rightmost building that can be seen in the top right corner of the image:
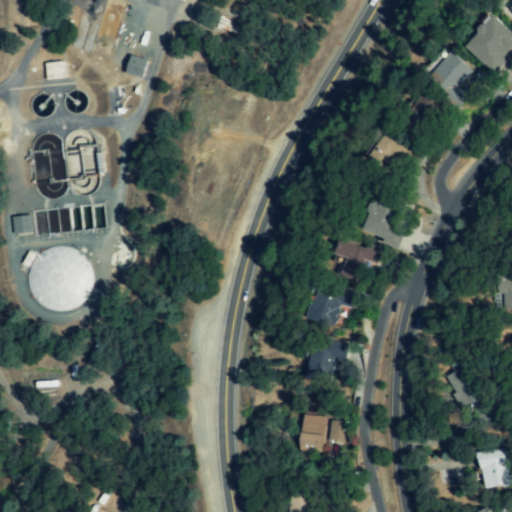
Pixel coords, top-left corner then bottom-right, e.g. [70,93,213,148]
[466,13,512,70]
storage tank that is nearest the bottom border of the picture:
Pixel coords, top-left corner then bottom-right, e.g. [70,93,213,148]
[28,245,96,312]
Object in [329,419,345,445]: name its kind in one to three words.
building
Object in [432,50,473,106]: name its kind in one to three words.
house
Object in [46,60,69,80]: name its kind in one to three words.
building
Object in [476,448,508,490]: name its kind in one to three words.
house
